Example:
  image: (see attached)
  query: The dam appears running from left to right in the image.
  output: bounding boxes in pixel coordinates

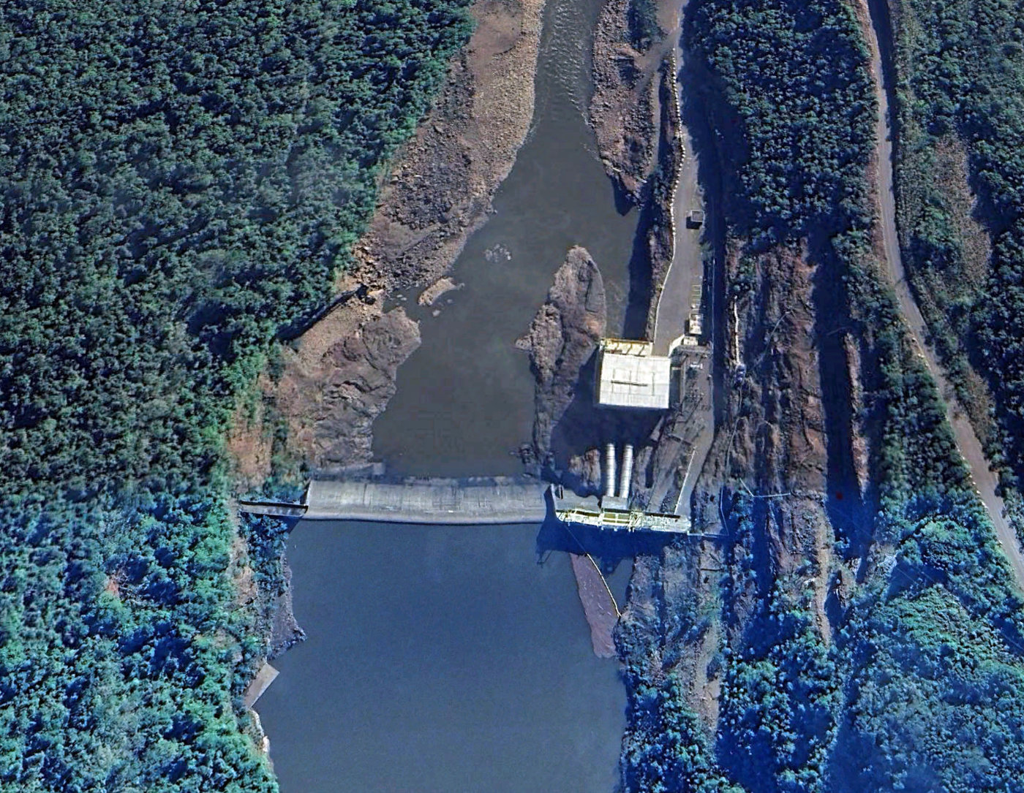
[304,473,554,524]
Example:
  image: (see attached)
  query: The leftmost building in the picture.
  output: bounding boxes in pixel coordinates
[592,339,684,410]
